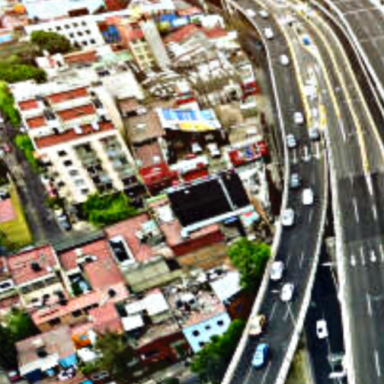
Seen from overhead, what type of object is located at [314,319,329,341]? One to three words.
car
